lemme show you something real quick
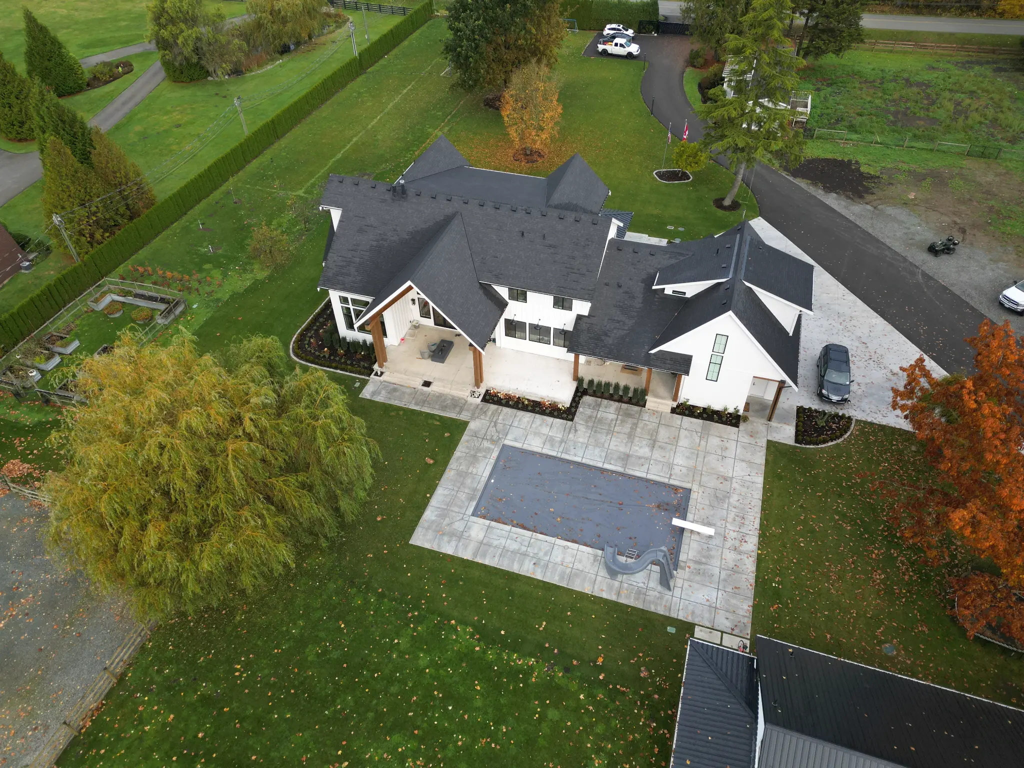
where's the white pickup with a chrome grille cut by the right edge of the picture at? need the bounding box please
[999,269,1024,309]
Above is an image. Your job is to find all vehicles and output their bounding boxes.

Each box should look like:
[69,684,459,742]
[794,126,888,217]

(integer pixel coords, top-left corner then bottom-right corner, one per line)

[817,343,856,405]
[933,241,962,259]
[999,269,1024,309]
[598,30,632,43]
[597,38,643,59]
